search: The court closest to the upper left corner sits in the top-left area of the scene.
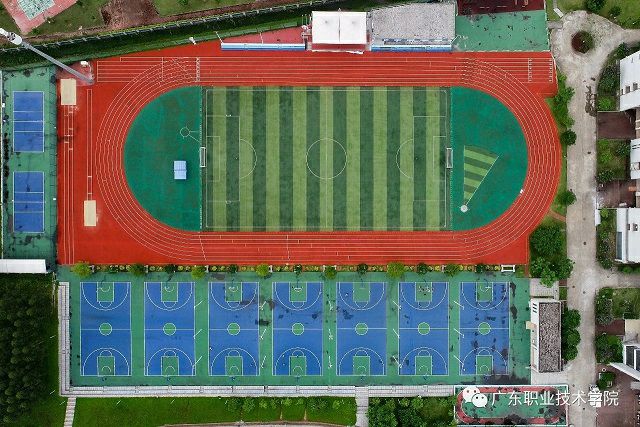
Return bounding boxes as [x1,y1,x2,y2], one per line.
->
[4,0,73,33]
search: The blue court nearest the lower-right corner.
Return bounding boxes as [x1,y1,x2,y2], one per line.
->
[459,282,510,376]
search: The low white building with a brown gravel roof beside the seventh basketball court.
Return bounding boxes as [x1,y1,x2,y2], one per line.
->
[527,297,562,373]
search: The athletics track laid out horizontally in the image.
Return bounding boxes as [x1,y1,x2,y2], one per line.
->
[58,42,561,264]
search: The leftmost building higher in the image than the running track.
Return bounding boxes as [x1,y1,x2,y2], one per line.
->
[369,1,456,46]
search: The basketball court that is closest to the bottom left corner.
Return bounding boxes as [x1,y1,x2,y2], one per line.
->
[80,282,131,376]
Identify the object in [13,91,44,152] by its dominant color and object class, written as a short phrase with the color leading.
blue sports court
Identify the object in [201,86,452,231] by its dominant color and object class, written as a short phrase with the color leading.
green soccer field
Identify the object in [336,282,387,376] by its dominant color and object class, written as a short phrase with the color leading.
blue basketball court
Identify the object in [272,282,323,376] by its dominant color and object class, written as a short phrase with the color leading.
blue basketball court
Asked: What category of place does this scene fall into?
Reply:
sports ground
